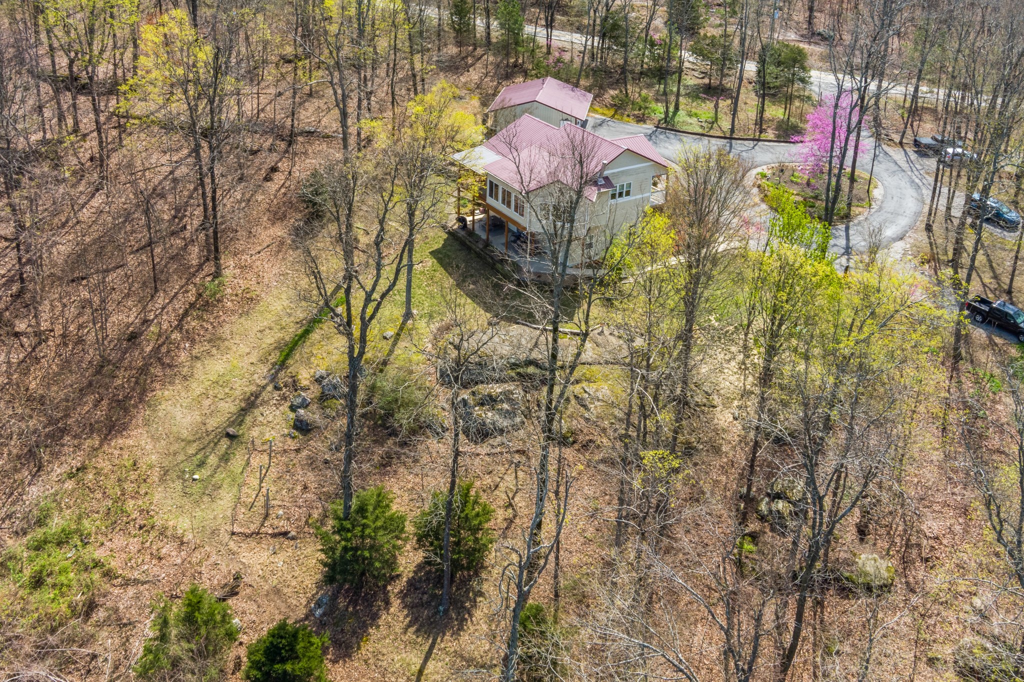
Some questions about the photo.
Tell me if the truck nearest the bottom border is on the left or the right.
right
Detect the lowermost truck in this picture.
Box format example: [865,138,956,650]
[962,290,1024,337]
